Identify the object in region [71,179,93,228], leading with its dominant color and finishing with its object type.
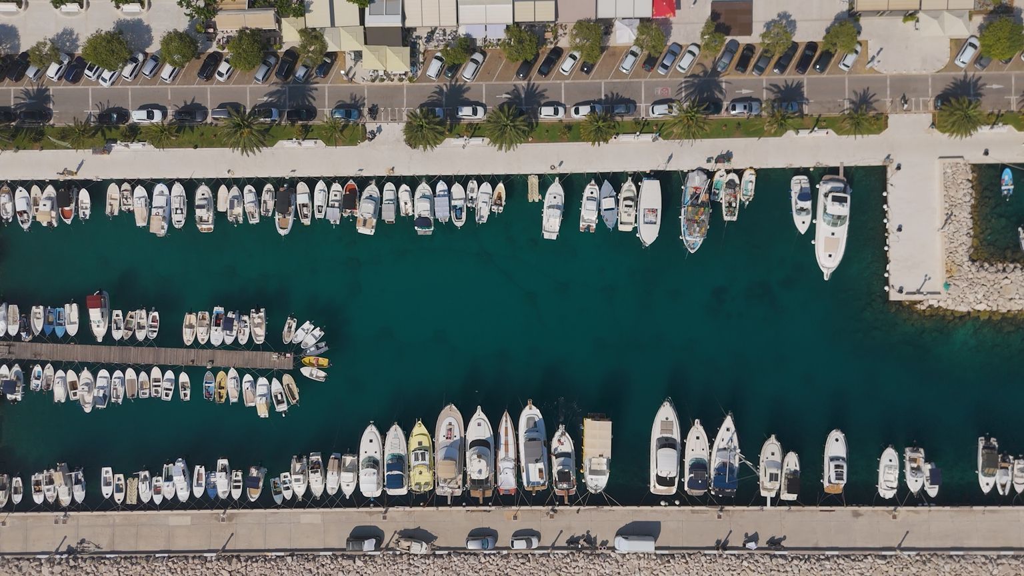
white boat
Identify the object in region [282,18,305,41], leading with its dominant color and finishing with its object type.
white umbrella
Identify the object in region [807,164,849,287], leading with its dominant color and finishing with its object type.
white boat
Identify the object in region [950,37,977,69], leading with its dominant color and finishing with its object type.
white car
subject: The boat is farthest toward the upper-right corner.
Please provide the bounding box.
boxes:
[999,168,1013,201]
